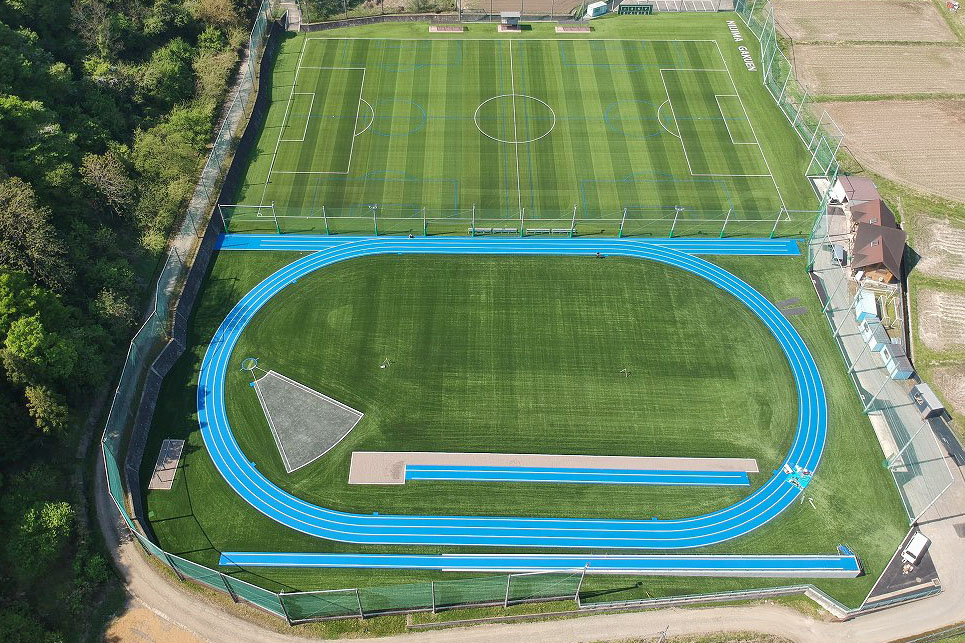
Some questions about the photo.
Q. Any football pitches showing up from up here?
Yes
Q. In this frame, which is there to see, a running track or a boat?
running track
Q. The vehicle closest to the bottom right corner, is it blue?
No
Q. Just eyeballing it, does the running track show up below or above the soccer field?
below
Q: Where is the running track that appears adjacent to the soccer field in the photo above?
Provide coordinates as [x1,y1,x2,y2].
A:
[195,234,828,548]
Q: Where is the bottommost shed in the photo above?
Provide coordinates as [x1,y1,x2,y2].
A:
[909,381,948,419]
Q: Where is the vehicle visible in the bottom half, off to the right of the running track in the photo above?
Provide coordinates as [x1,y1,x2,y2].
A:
[907,535,928,569]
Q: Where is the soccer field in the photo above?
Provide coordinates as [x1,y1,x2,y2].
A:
[258,39,791,221]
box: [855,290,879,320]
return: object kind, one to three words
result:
shed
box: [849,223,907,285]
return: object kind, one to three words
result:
house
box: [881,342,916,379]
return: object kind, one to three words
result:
shed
